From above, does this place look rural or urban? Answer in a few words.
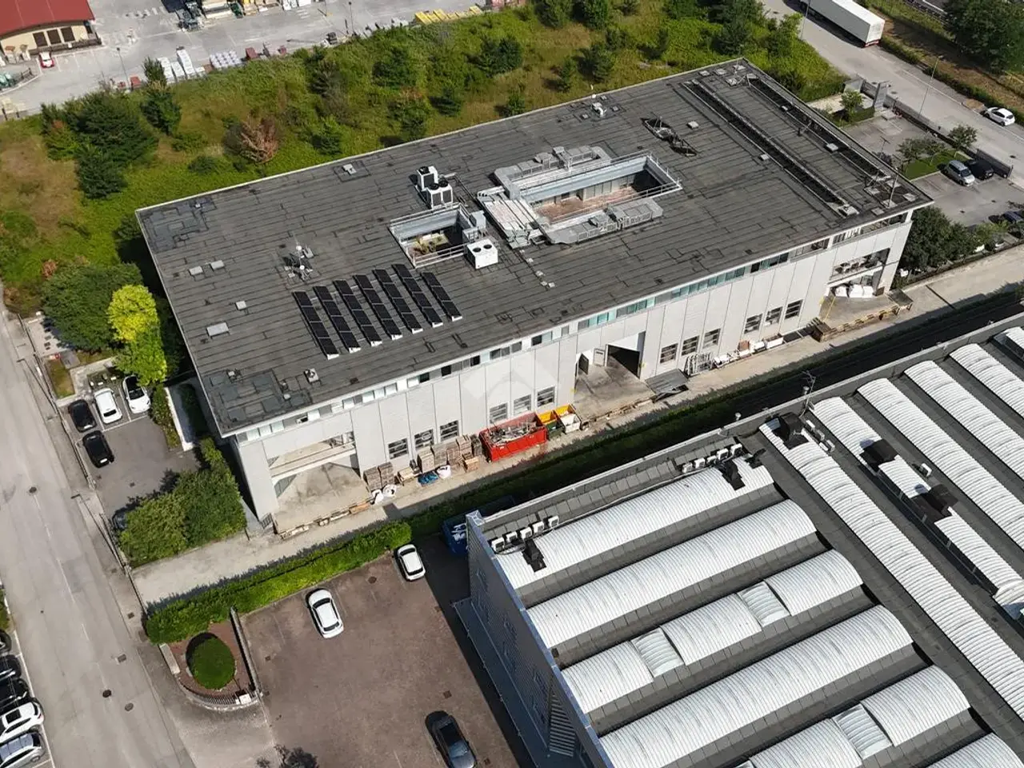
urban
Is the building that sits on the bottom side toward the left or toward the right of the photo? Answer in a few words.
right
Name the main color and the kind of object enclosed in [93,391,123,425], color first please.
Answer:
white car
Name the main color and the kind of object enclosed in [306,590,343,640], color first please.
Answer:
white car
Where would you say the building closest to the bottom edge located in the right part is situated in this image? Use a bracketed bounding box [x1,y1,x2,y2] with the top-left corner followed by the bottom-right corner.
[457,312,1024,768]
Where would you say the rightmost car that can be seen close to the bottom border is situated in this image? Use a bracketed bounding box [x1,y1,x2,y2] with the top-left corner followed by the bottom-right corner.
[427,707,474,768]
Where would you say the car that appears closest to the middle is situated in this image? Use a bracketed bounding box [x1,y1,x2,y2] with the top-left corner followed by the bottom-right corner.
[393,544,429,586]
